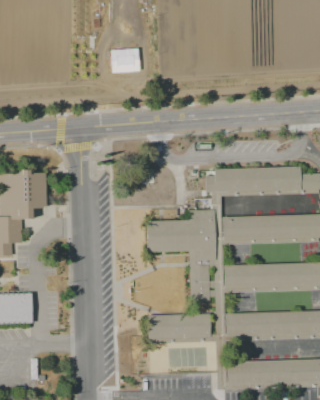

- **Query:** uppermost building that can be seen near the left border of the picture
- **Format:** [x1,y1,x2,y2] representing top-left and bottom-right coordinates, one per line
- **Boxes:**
[0,170,46,256]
